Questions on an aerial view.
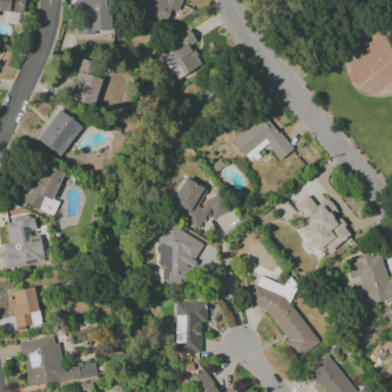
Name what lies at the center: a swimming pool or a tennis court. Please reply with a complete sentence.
The feature located at the center is a swimming pool.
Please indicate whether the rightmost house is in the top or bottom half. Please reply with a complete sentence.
You can find the rightmost house in the bottom half.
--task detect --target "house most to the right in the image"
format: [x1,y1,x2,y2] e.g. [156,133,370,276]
[350,254,392,304]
